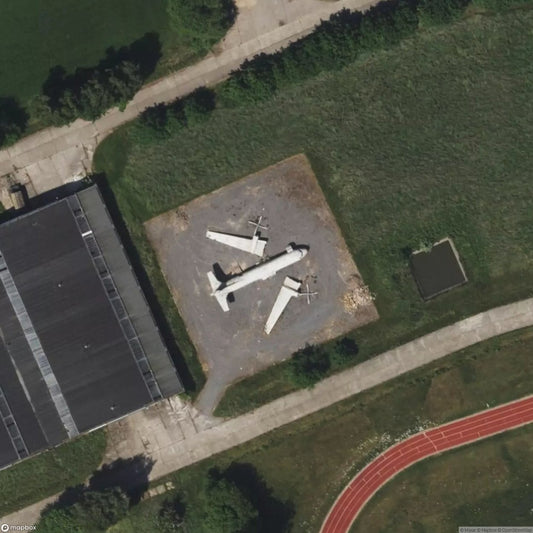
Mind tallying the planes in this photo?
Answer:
1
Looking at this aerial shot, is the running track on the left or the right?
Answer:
right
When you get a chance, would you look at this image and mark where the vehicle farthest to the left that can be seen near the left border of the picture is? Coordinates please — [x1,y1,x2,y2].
[8,185,26,210]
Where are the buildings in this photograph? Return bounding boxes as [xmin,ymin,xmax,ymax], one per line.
[0,184,184,471]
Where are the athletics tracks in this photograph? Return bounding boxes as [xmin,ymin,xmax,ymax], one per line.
[318,395,533,533]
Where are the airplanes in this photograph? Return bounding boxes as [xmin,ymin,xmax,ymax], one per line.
[207,248,308,311]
